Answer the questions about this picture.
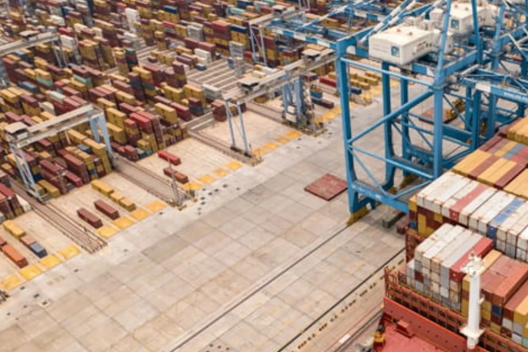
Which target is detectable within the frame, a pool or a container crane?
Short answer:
container crane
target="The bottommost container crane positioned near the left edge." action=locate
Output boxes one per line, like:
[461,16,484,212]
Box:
[4,105,128,206]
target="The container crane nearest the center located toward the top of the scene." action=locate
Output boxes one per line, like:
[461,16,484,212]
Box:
[221,71,310,160]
